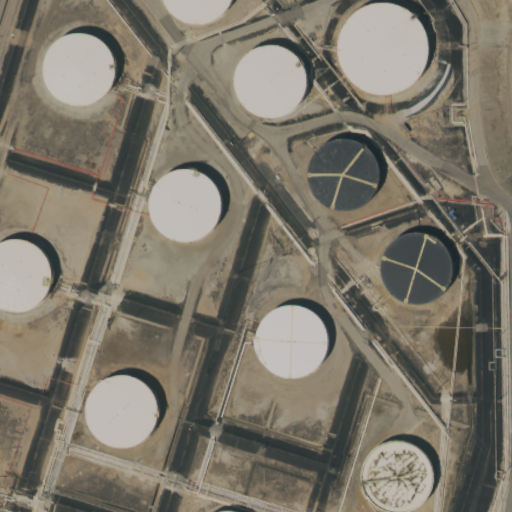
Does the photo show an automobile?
No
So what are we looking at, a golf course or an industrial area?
industrial area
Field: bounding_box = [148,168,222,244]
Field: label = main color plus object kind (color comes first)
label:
white storage tank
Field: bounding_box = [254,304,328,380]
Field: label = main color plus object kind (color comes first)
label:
white storage tank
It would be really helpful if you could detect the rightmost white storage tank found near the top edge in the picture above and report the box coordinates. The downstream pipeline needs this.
[336,3,429,97]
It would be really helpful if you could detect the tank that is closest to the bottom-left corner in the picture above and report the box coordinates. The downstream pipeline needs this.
[85,374,159,448]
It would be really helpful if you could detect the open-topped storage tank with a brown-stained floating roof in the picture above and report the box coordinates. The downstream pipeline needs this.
[360,440,434,512]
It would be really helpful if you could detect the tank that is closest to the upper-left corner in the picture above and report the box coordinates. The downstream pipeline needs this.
[42,32,117,108]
